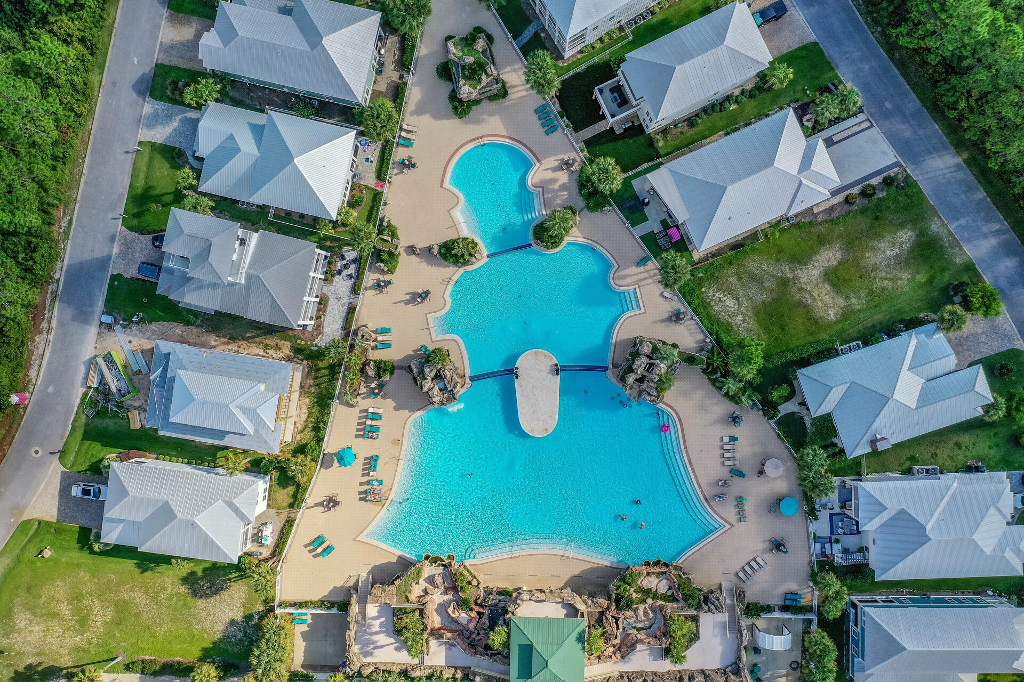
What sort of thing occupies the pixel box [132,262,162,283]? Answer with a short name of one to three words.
car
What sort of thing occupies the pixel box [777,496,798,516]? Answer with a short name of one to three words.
umbrella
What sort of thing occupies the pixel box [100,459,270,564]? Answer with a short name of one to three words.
house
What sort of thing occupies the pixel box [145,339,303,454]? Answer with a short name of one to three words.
house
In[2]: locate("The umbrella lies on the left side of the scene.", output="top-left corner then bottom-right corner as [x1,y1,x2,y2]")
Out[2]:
[336,446,357,467]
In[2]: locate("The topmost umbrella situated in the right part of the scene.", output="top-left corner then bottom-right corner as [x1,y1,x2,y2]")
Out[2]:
[762,457,783,478]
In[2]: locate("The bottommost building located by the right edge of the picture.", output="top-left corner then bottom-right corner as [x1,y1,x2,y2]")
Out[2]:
[846,595,1024,682]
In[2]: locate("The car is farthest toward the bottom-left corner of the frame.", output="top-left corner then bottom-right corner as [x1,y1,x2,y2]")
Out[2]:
[66,483,108,502]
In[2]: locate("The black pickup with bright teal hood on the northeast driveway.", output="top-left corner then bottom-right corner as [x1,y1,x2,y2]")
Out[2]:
[751,0,795,26]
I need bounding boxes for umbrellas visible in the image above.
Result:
[777,496,798,516]
[762,457,783,478]
[336,446,357,467]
